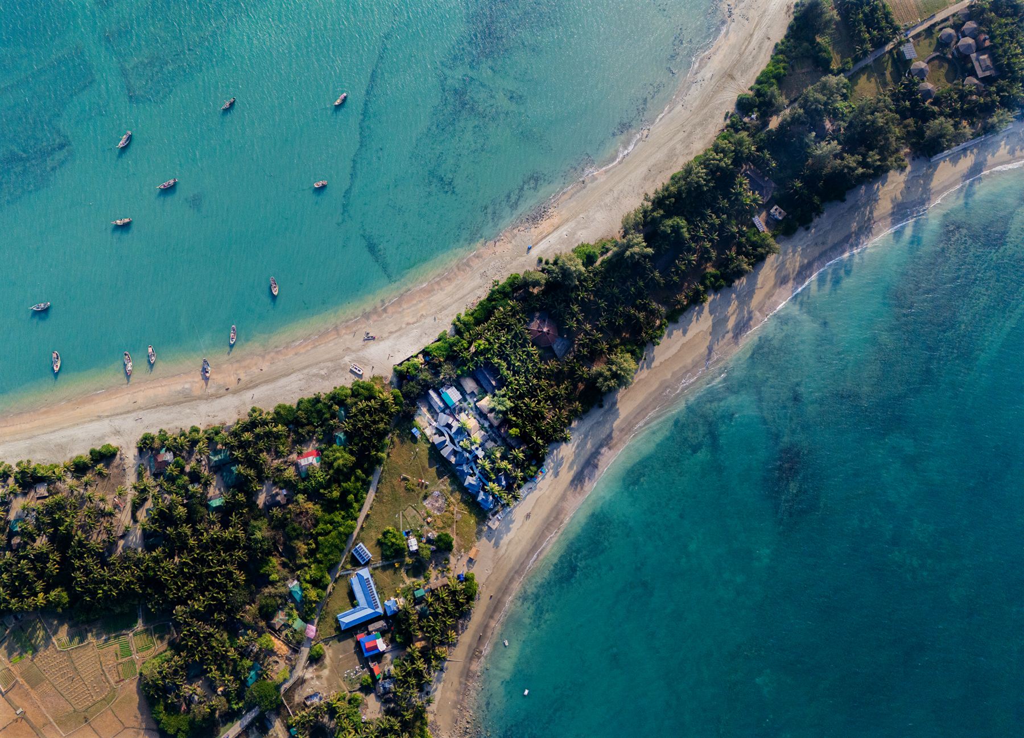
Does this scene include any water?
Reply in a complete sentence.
Yes, water can be seen from above here.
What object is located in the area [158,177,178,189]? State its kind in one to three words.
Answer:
boat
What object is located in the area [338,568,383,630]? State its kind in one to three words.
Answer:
building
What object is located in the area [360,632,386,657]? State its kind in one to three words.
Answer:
house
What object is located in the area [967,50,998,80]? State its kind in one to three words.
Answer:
house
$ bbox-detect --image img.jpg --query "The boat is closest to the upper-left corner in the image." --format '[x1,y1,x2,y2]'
[117,130,132,148]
